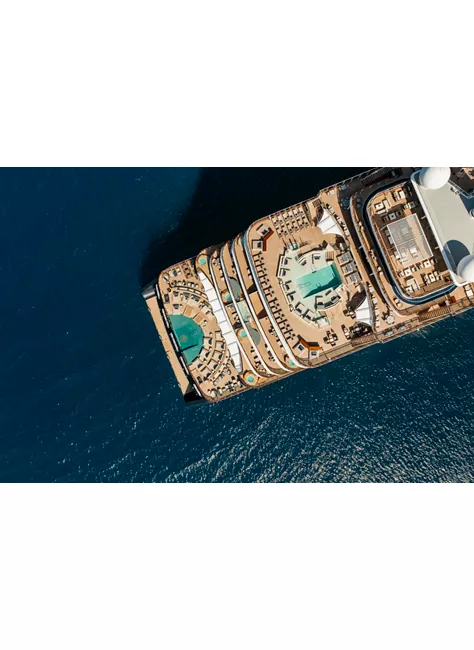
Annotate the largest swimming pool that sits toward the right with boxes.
[296,263,340,299]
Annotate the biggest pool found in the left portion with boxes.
[169,314,204,364]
